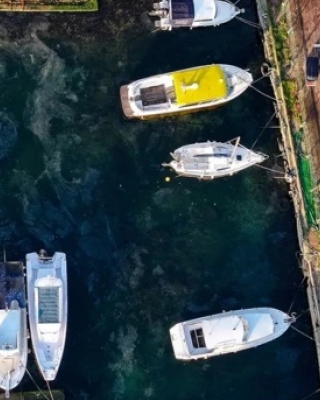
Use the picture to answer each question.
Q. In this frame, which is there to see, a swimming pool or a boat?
boat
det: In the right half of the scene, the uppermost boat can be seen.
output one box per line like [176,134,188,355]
[145,0,264,32]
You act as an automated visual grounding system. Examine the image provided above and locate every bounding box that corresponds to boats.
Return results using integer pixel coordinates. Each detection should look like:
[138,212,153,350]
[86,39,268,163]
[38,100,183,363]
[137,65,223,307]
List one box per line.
[145,0,264,32]
[160,112,285,180]
[26,246,68,400]
[117,63,276,122]
[163,283,311,364]
[0,246,46,400]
